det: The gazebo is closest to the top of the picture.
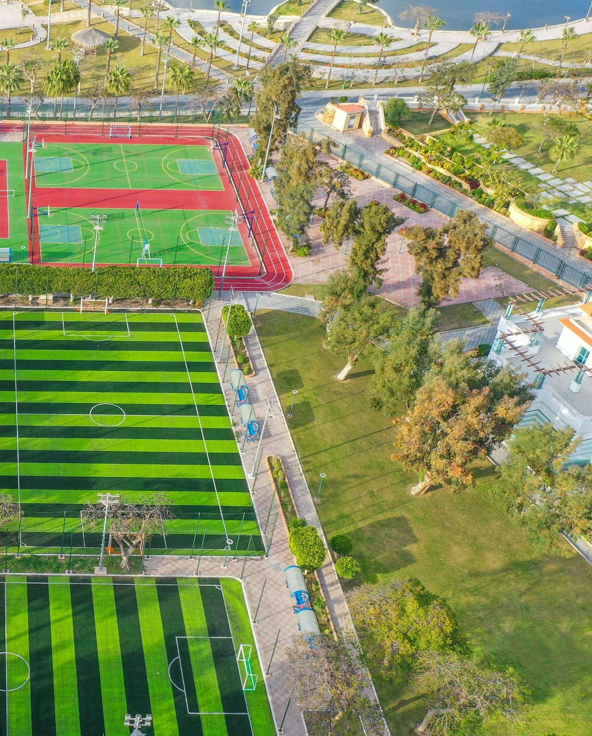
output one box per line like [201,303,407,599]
[70,25,110,56]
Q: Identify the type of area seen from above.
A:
sports ground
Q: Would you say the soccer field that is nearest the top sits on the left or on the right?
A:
left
